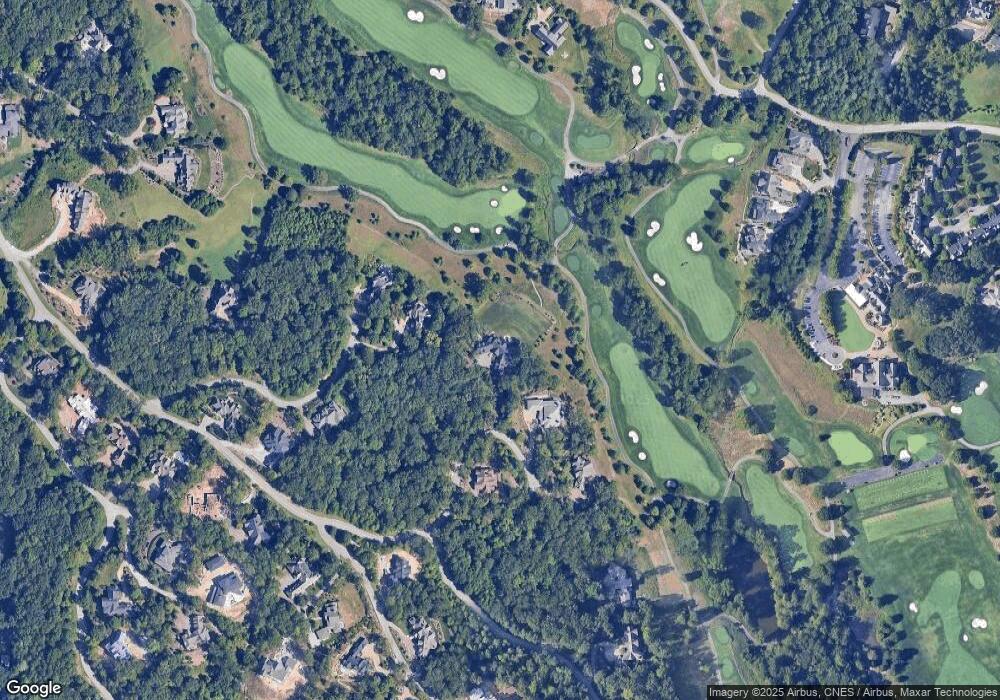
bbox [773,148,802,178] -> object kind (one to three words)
house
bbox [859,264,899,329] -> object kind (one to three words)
building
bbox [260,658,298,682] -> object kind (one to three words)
house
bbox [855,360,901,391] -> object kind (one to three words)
building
